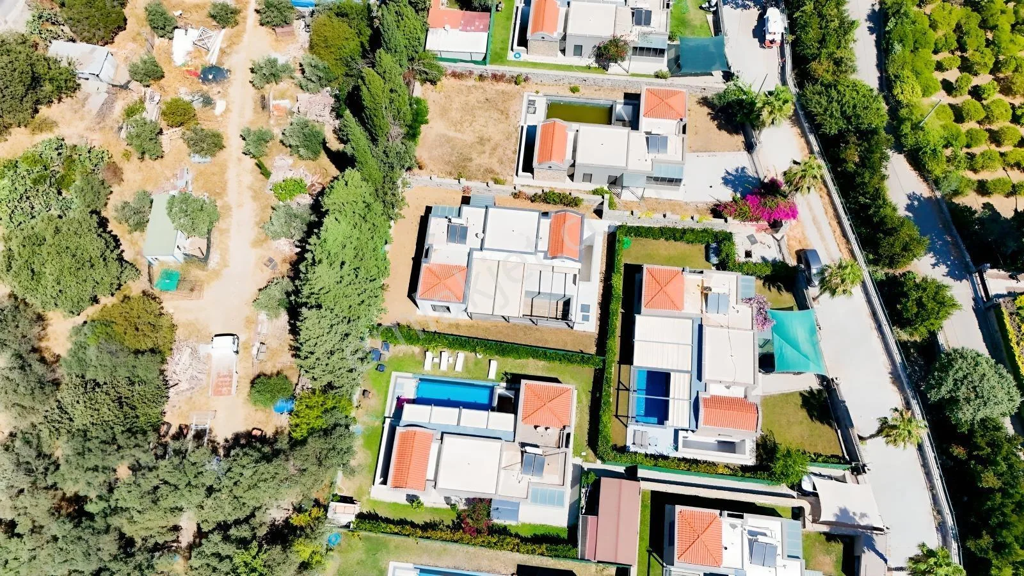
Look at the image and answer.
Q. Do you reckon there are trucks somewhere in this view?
Yes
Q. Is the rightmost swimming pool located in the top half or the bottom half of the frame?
bottom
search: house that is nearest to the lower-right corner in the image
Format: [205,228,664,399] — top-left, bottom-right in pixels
[660,503,802,576]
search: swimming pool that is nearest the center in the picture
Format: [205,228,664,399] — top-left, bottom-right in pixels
[411,374,497,414]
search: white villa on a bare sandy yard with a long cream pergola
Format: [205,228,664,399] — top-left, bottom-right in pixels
[417,194,606,337]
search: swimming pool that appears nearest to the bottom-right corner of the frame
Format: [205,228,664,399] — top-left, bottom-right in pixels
[630,366,685,430]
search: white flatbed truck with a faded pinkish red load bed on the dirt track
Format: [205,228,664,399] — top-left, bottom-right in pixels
[206,334,240,398]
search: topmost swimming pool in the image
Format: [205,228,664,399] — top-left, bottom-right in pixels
[544,100,616,126]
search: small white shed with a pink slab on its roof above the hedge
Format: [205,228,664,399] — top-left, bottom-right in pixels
[327,502,362,526]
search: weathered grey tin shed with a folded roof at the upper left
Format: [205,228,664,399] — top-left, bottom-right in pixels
[49,40,117,94]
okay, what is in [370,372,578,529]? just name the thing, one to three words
house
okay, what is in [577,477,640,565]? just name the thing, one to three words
shed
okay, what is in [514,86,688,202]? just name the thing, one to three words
house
